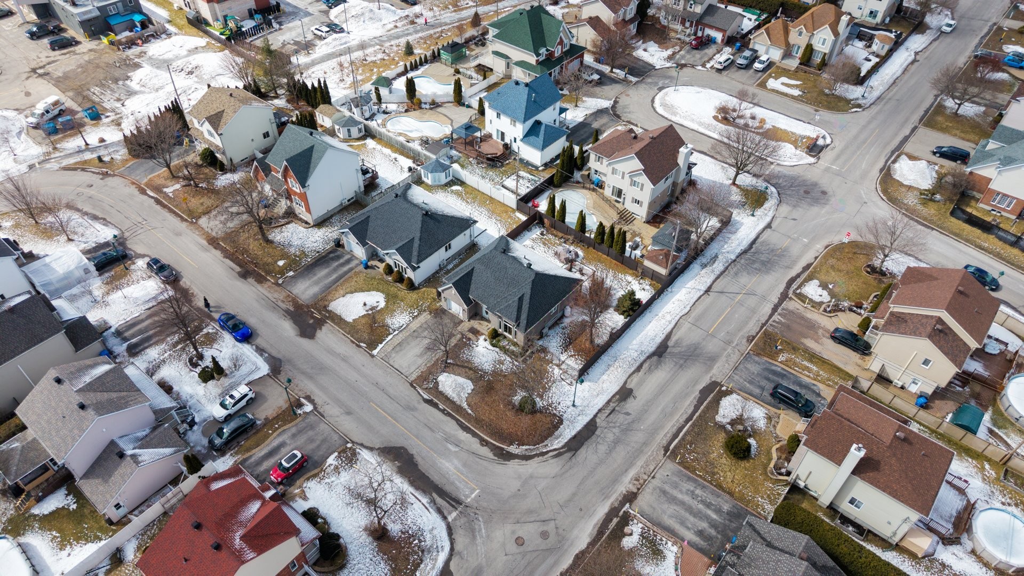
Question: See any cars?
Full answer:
Yes, I can see a car in this picture.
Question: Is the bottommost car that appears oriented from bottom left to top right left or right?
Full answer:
The bottommost car that appears oriented from bottom left to top right is on the left side of the image.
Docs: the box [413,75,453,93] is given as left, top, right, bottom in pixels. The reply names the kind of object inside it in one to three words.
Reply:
swimming pool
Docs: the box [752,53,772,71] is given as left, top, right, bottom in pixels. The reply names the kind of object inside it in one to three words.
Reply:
car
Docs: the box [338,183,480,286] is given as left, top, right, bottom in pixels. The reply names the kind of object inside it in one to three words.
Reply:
house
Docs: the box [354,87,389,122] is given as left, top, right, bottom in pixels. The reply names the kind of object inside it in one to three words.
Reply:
shed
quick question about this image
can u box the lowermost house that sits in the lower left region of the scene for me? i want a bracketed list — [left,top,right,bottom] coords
[112,463,330,576]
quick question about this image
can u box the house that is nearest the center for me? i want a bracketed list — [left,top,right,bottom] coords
[438,236,584,352]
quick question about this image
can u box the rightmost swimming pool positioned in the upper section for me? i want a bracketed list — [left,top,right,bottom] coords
[551,187,598,231]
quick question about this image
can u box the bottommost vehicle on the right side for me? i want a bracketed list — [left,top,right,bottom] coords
[768,381,818,419]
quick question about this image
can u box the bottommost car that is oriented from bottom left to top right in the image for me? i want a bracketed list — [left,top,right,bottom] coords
[267,448,312,485]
